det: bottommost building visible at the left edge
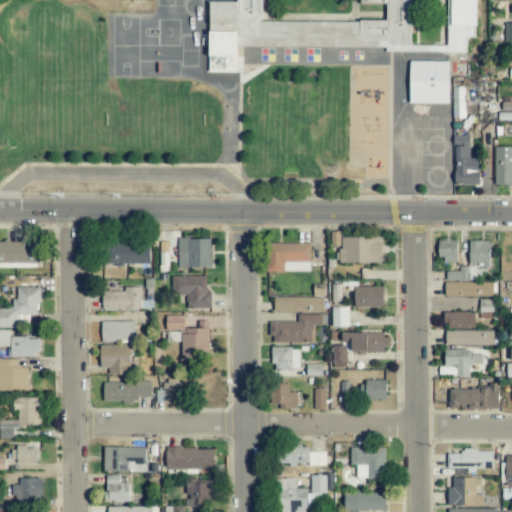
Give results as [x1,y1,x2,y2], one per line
[12,478,44,500]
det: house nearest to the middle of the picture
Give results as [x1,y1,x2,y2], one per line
[268,243,312,273]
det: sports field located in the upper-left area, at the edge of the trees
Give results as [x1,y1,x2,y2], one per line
[0,0,223,184]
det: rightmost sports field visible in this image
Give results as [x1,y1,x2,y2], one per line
[244,66,350,178]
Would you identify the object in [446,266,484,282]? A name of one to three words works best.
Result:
house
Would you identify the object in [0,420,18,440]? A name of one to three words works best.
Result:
house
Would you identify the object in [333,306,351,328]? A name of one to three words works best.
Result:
building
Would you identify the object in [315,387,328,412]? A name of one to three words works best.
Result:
building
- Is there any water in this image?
No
